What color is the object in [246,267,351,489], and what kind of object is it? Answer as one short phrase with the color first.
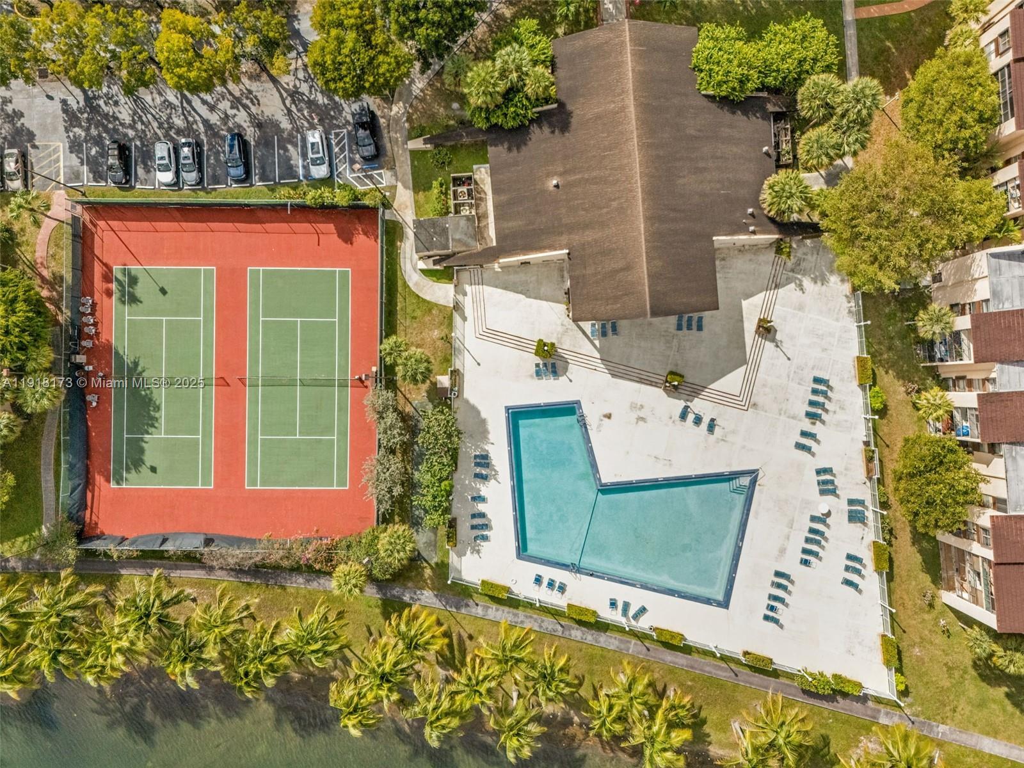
green tennis court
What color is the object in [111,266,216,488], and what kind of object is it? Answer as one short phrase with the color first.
green tennis court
